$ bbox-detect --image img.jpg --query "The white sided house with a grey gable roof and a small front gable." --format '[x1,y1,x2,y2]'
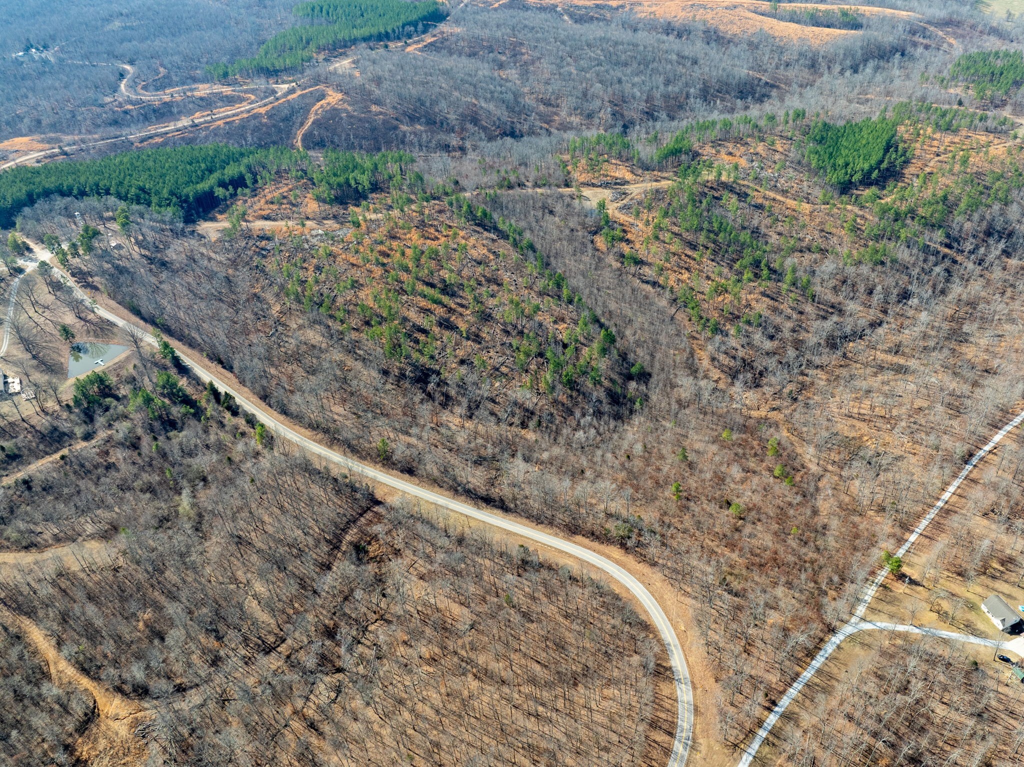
[980,598,1024,631]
